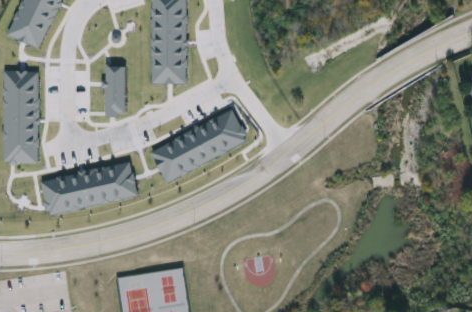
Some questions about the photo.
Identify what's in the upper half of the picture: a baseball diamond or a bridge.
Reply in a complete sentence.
Visible in the upper half of the picture is a bridge.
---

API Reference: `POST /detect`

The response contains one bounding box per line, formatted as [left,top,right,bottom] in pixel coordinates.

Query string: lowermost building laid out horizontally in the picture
[40,156,139,214]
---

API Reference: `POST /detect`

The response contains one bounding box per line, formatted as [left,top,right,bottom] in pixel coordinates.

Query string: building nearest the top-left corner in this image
[9,0,62,48]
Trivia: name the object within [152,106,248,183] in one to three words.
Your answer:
building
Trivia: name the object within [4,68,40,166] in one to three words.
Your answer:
building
